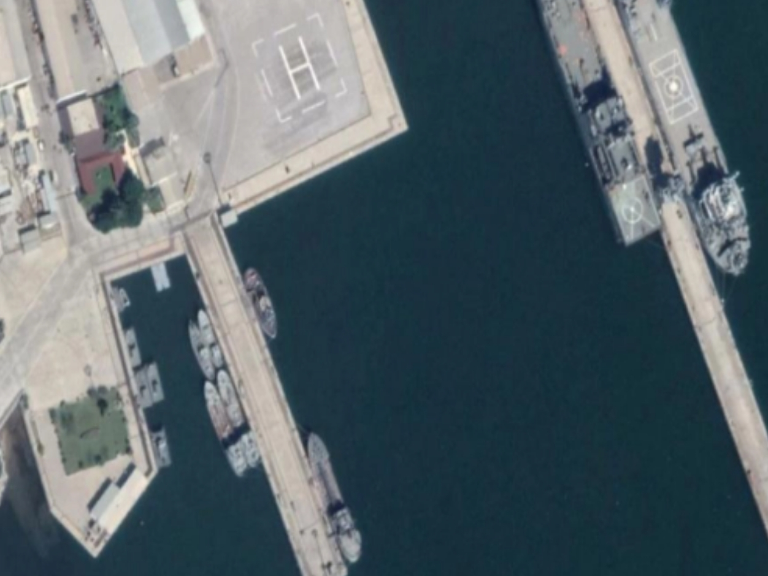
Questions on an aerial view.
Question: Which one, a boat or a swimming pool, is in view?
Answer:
boat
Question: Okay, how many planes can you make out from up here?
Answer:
0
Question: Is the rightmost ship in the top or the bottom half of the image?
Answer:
top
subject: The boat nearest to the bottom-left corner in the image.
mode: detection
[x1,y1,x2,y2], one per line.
[151,430,171,467]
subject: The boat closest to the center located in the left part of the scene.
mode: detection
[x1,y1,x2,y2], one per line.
[244,267,277,338]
